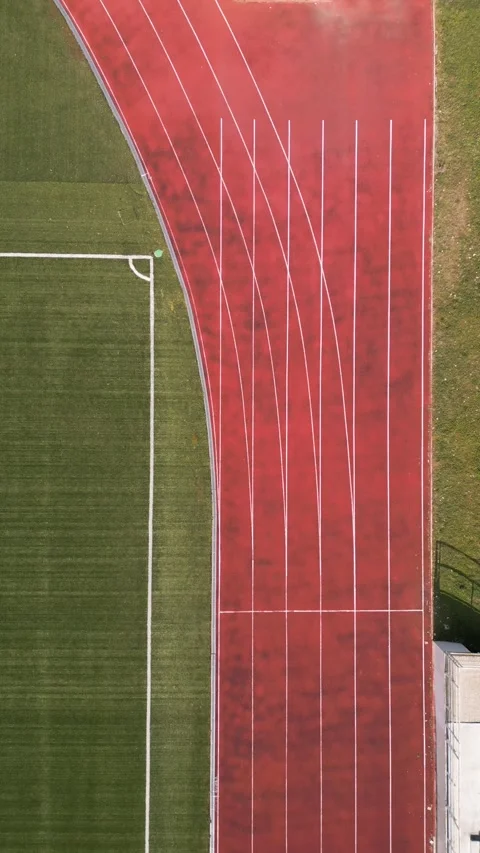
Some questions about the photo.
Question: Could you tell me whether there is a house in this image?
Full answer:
No, this view has no house in it.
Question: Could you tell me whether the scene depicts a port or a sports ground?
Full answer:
This image shows a sports ground.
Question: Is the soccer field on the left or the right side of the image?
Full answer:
You can find the soccer field on the left side of the picture.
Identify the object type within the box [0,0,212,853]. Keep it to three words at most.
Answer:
soccer field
